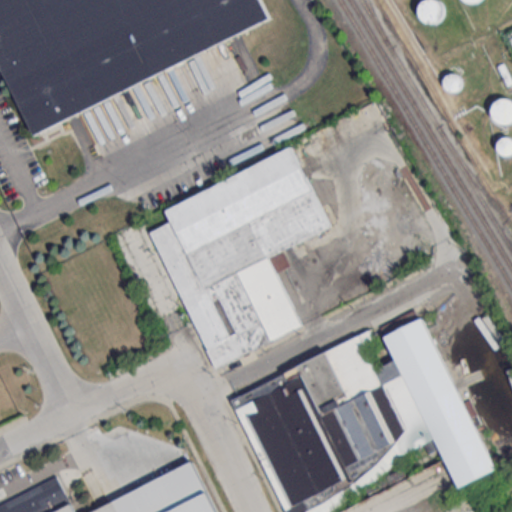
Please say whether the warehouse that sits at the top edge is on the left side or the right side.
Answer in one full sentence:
The warehouse that sits at the top edge is on the left side of the image.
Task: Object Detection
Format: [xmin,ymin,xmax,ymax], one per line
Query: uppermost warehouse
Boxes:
[0,0,266,134]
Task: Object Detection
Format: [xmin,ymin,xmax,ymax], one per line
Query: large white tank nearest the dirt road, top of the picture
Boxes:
[416,0,448,30]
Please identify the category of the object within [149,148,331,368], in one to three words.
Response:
building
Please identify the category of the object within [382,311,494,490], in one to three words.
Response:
shed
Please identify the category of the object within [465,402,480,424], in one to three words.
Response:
vehicle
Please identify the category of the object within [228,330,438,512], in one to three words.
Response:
building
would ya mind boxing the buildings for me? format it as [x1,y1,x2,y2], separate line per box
[0,0,266,134]
[149,148,331,368]
[228,330,438,512]
[382,311,494,490]
[0,476,74,512]
[90,462,215,512]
